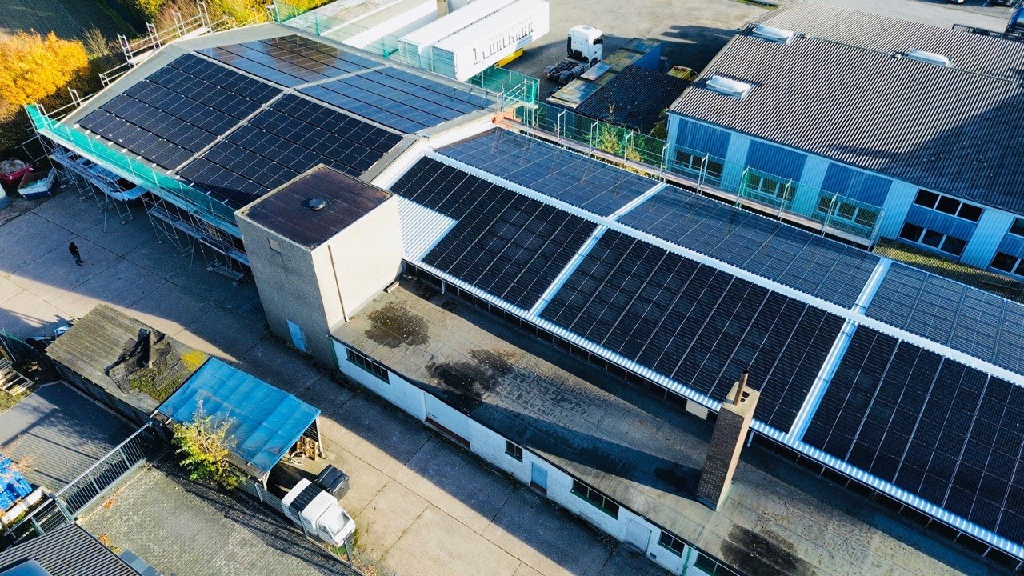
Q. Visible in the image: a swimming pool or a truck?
truck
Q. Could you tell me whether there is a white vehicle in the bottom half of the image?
Yes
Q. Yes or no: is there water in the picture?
No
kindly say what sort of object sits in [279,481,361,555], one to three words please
truck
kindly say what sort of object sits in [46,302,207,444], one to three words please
shed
